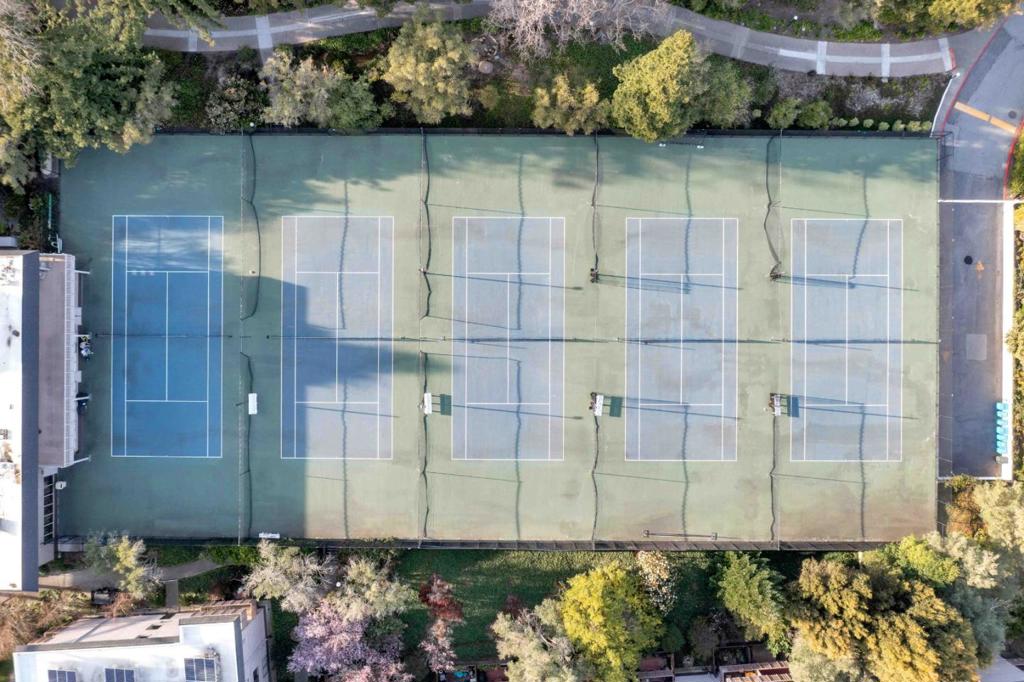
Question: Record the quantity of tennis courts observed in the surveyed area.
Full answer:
The picture shows 5 tennis courts.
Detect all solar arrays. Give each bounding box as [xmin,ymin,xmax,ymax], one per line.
[105,667,141,682]
[185,658,221,682]
[48,669,83,682]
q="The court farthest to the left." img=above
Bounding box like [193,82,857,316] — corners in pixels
[56,136,253,539]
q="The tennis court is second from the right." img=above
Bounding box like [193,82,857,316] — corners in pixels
[596,137,776,542]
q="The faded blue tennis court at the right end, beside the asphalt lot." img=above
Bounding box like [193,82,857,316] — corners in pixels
[774,138,939,543]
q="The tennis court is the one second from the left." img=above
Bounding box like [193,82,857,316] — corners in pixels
[251,135,427,541]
